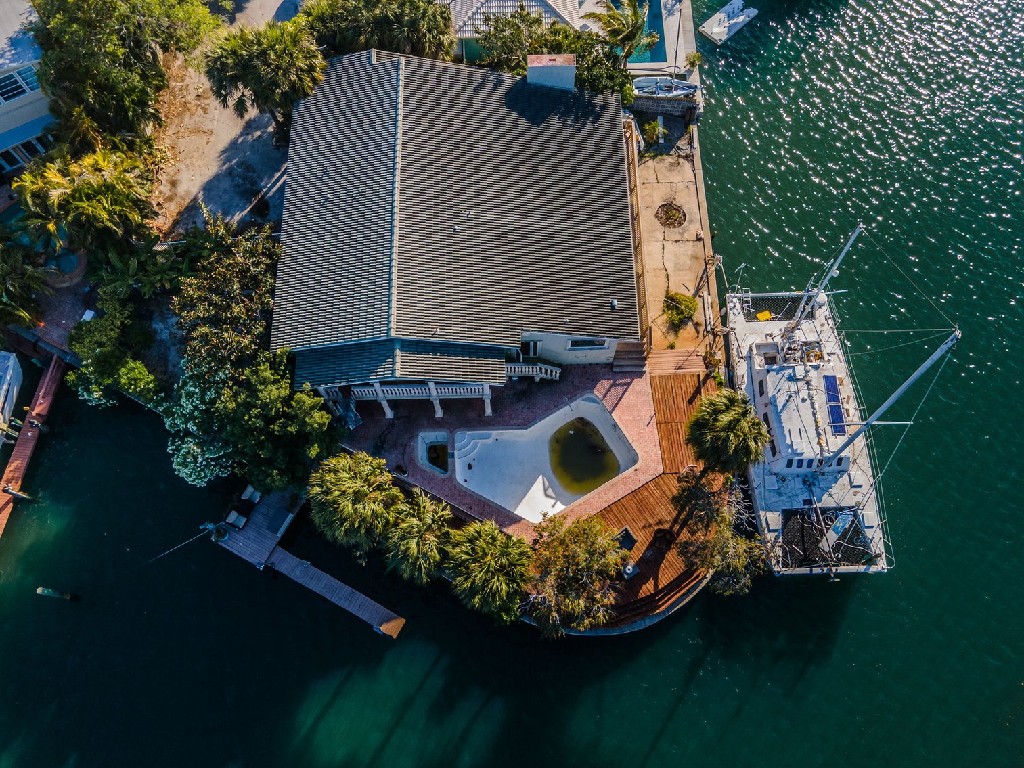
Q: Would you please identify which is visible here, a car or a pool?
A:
pool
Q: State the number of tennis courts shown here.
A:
0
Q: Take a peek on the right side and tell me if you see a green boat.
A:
No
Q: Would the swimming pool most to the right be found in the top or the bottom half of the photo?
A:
top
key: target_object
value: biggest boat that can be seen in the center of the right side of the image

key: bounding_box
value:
[720,213,969,583]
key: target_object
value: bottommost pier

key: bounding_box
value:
[215,483,409,641]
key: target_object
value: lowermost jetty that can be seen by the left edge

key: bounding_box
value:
[0,358,68,559]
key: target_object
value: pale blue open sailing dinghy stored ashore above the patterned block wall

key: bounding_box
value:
[634,9,702,97]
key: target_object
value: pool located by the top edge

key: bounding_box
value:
[613,0,671,65]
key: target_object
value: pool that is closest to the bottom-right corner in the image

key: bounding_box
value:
[447,389,645,529]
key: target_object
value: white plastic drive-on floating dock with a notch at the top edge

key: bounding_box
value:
[697,0,758,49]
